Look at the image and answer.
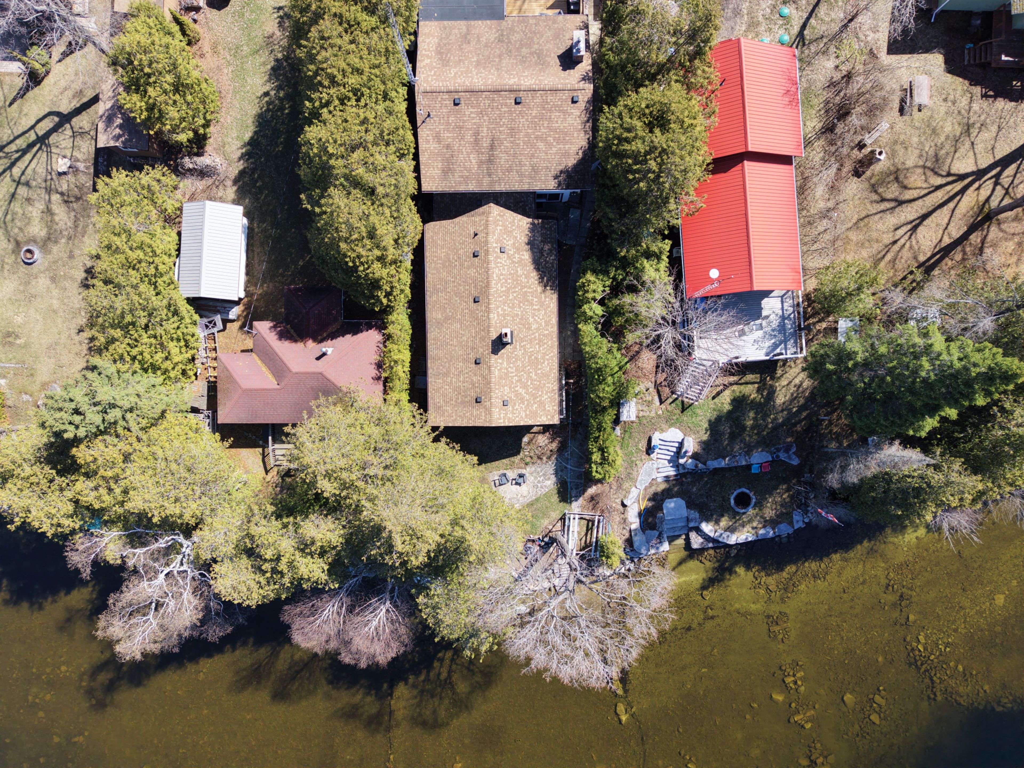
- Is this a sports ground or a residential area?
residential area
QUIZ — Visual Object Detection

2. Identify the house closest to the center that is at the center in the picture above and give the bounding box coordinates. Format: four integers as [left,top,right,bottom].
[425,193,560,426]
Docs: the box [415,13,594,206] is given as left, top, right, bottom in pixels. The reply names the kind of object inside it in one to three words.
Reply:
house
